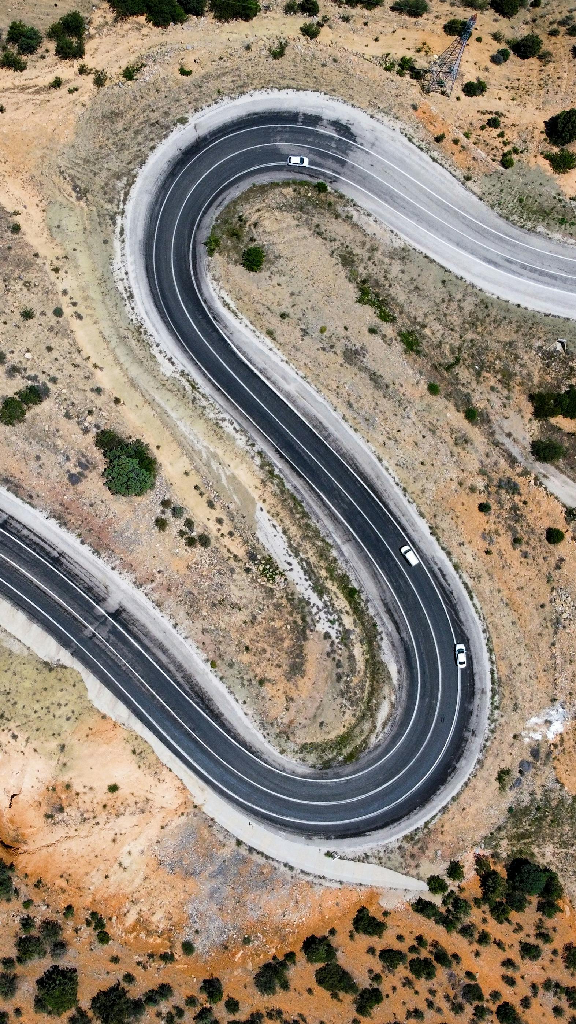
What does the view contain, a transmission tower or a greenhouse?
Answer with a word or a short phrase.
transmission tower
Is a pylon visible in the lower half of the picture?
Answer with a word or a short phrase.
No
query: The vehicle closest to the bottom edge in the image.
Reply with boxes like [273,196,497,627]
[454,643,466,668]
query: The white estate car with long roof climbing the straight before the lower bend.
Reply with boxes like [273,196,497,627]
[400,543,418,567]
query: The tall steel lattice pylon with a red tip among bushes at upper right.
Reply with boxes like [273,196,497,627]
[416,11,481,103]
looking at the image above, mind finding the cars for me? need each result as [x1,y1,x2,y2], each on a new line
[400,543,418,567]
[454,643,466,668]
[286,155,308,166]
